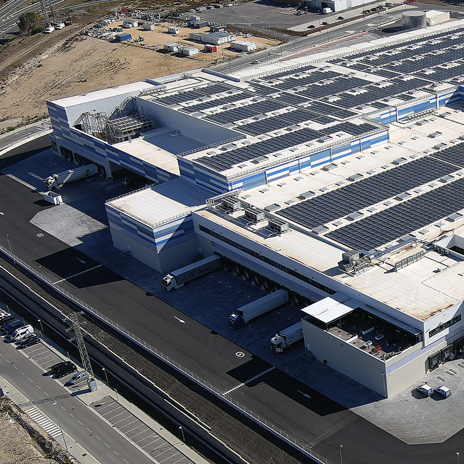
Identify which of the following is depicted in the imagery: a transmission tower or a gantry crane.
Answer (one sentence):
Of the two, only a transmission tower appears.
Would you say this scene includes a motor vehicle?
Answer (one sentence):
Yes, there's a motor vehicle here.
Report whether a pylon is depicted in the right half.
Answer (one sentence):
No, I see no pylon in the right half.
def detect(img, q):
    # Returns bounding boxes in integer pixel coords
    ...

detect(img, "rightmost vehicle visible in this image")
[435,386,454,399]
